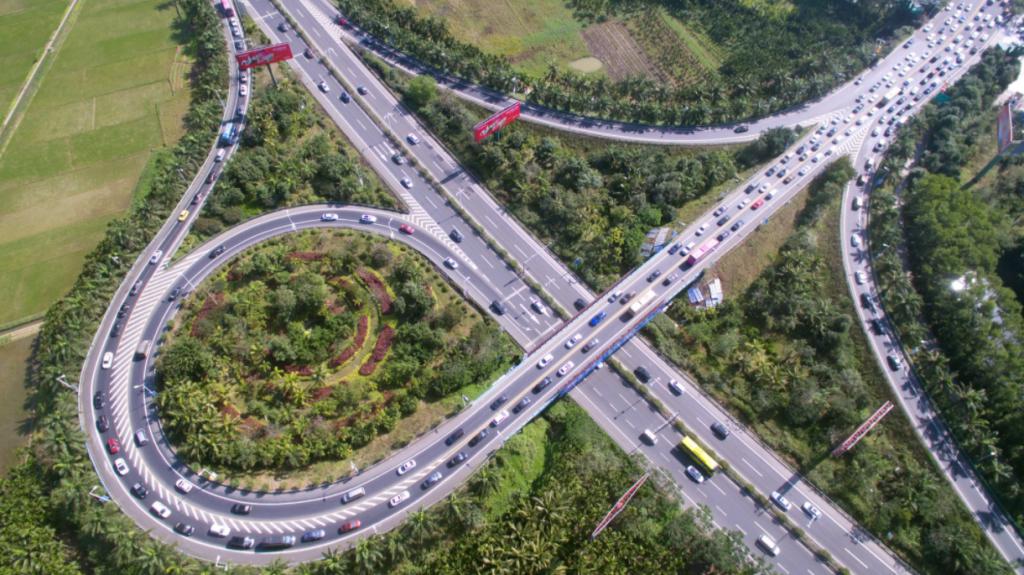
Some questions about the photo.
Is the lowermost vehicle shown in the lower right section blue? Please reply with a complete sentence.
No, the lowermost vehicle shown in the lower right section is actually white.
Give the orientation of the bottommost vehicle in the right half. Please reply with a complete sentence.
The bottommost vehicle in the right half has been laid out on a diagonal relative to the frame.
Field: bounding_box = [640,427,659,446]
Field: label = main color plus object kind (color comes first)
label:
white vehicle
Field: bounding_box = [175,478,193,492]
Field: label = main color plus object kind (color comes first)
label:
white car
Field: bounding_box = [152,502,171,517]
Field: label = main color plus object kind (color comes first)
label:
white car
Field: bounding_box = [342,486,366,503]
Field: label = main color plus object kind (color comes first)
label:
white vehicle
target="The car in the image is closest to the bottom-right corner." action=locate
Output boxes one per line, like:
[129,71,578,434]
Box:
[802,501,821,518]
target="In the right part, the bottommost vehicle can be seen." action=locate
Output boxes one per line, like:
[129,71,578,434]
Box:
[757,533,779,556]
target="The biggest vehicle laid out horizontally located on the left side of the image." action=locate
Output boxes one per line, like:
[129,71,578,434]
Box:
[259,534,295,548]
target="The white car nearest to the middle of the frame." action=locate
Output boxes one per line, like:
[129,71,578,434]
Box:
[532,299,546,313]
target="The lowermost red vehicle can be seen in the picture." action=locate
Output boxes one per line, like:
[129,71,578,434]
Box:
[340,519,360,532]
